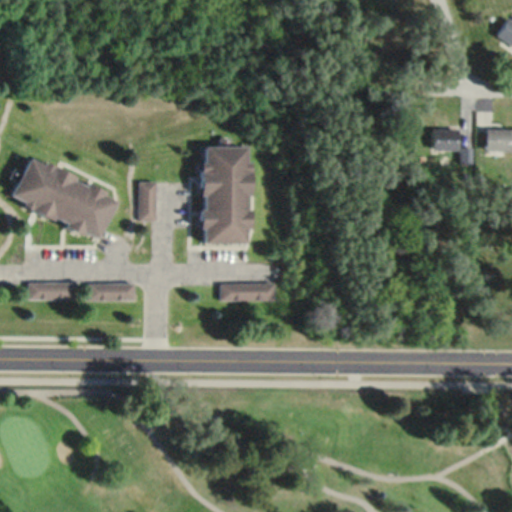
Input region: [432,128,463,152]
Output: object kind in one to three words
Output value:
house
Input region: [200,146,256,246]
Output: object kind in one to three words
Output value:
building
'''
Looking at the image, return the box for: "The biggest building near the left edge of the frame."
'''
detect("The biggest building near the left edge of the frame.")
[12,159,118,236]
